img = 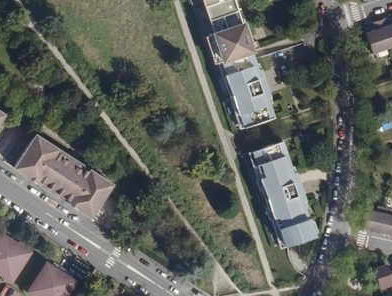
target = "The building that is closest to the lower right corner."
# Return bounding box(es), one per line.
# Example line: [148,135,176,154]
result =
[373,264,392,290]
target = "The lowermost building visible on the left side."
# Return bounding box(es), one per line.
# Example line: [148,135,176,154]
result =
[26,262,78,296]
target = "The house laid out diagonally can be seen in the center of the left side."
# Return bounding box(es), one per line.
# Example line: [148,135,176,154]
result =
[15,134,116,222]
